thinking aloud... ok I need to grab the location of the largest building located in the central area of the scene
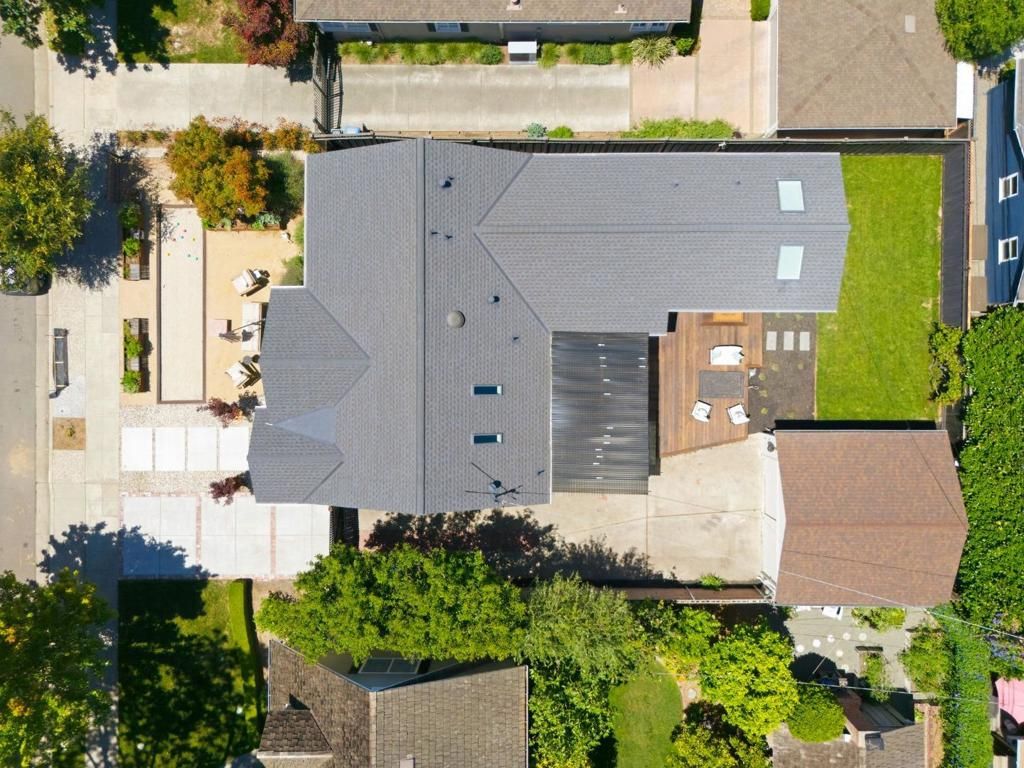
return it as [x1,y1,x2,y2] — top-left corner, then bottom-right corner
[247,139,850,514]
